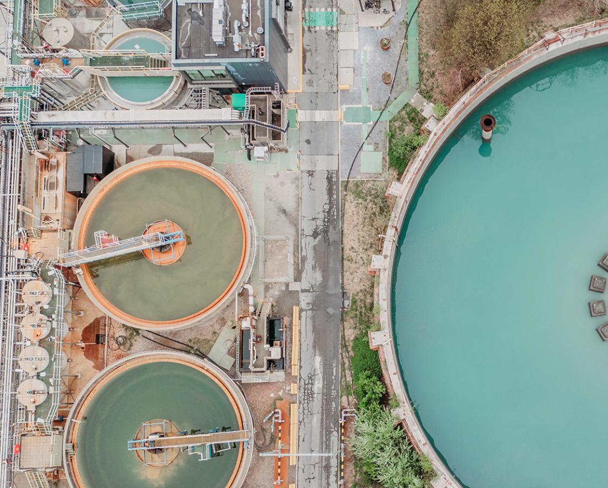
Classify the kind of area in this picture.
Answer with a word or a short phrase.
industrial area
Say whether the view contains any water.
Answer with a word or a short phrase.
Yes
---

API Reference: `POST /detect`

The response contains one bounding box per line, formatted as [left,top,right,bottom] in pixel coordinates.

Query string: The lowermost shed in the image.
[67,145,118,200]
